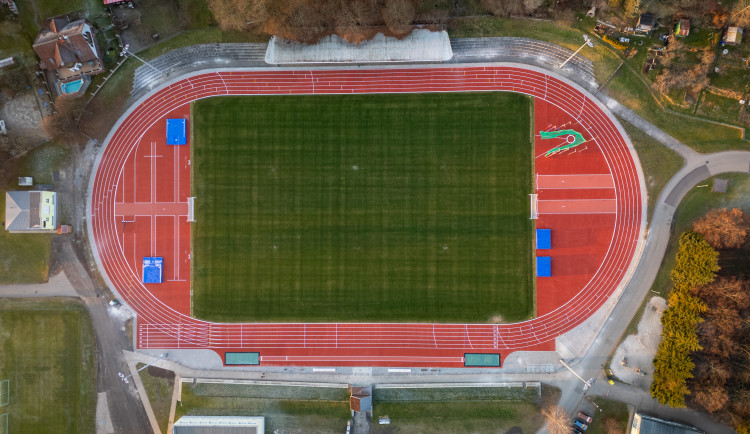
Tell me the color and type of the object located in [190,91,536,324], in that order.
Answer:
green soccer field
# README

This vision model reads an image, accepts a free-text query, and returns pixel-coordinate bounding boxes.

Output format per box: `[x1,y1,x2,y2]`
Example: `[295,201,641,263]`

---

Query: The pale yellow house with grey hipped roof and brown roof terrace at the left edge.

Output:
[4,191,58,232]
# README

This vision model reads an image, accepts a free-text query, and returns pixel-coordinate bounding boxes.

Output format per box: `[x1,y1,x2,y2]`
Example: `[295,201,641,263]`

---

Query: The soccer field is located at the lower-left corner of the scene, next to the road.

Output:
[0,310,82,434]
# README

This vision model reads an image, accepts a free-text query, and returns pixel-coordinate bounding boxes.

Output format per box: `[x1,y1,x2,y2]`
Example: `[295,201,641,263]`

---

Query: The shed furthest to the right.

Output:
[721,28,742,47]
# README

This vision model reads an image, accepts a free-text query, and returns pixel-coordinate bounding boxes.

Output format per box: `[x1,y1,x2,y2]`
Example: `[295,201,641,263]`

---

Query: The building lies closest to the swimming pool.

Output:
[33,18,106,81]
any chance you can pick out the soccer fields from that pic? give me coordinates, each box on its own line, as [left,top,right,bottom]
[190,91,536,324]
[0,310,82,434]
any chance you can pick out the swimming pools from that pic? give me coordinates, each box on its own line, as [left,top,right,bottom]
[55,77,91,100]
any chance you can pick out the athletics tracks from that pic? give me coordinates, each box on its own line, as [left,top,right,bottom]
[92,67,641,367]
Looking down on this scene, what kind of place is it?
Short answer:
sports ground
